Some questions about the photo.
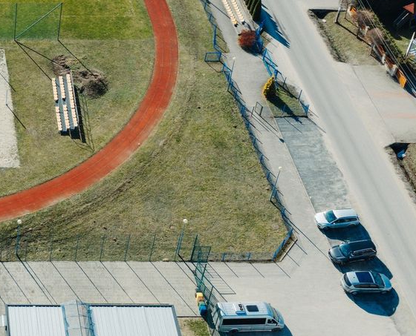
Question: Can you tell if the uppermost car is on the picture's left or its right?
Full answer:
It is on the right.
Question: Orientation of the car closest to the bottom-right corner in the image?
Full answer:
What the image shows is the car closest to the bottom-right corner lying from side to side.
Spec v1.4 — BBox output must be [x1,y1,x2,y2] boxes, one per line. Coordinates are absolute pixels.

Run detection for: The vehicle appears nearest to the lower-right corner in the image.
[341,269,396,295]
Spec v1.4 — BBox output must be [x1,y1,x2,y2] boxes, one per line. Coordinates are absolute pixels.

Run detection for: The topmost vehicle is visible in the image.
[314,204,367,227]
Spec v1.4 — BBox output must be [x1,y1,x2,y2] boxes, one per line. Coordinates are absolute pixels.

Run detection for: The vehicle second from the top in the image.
[326,238,384,265]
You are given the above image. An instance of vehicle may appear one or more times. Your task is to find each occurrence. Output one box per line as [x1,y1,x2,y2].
[341,269,396,295]
[326,238,384,265]
[216,301,288,336]
[314,204,367,227]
